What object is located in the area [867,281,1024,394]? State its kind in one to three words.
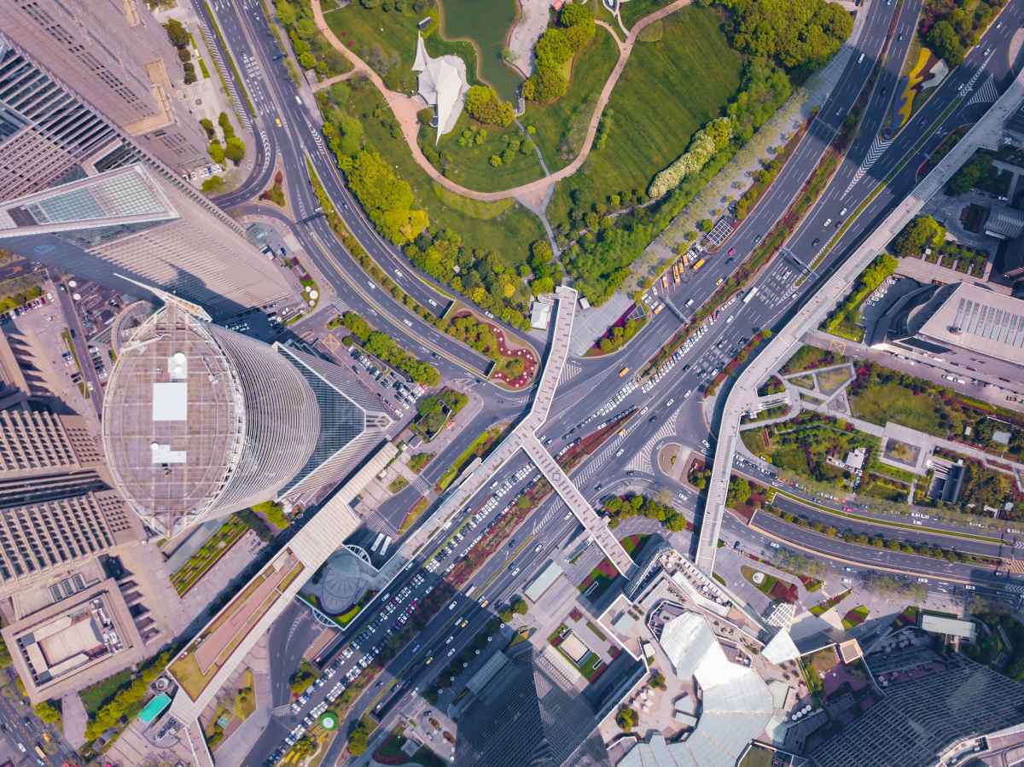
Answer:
building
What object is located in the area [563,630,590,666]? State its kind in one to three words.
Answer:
building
